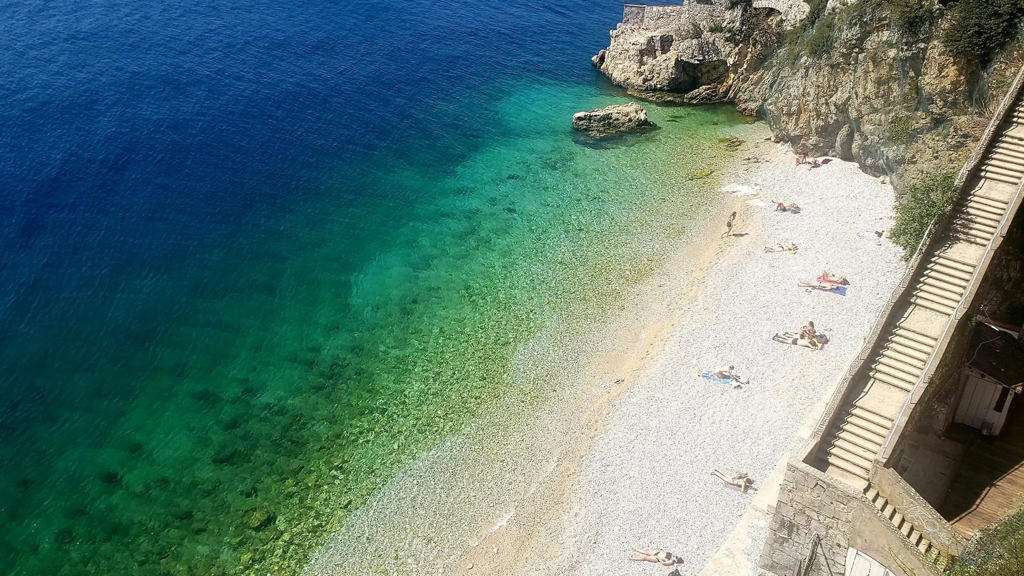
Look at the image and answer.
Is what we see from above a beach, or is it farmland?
beach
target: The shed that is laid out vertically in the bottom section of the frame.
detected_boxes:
[955,296,1024,442]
